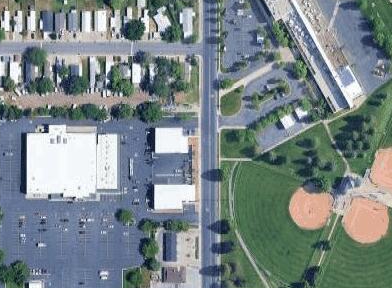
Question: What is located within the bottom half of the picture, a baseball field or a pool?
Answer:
baseball field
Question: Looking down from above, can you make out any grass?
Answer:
Yes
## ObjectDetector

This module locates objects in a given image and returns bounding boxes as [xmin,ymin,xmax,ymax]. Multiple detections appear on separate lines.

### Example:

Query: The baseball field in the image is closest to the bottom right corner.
[314,196,392,288]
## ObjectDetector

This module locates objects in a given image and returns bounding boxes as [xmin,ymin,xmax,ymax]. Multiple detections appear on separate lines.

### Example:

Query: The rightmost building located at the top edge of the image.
[266,0,366,115]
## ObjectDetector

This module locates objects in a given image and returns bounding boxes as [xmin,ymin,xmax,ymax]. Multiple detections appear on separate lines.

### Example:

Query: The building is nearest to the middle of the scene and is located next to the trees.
[154,128,189,153]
